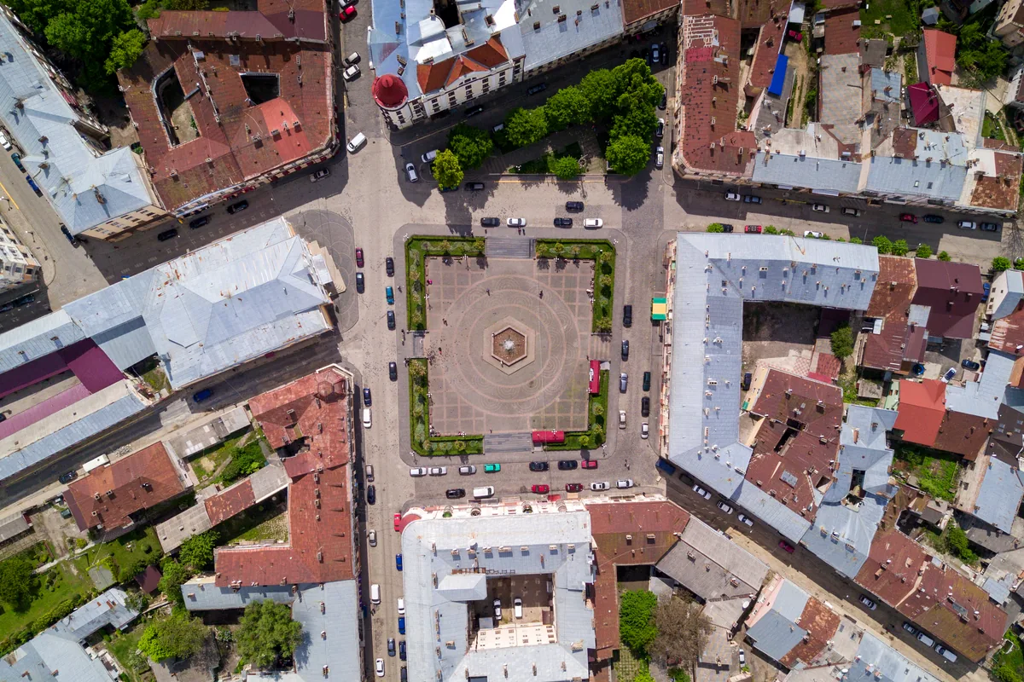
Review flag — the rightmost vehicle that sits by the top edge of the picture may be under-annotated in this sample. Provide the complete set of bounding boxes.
[786,29,803,43]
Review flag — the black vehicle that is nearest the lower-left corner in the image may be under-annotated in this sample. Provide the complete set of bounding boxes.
[59,470,80,483]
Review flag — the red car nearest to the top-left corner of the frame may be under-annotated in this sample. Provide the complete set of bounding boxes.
[339,6,358,21]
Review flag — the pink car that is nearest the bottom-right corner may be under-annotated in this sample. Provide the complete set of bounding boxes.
[777,539,794,553]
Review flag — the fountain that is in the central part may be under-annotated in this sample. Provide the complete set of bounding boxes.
[483,316,535,376]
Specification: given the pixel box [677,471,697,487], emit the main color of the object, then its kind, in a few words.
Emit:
black car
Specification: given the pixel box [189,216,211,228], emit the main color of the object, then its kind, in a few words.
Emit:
black vehicle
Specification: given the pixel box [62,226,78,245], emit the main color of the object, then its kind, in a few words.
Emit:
black car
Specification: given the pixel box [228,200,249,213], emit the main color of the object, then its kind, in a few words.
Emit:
black vehicle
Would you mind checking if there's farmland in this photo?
No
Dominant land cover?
buildings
